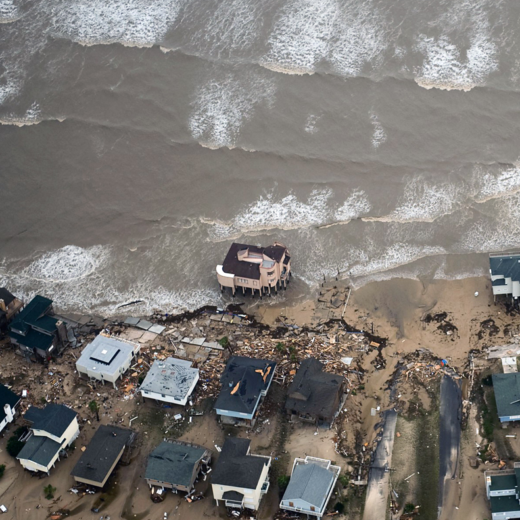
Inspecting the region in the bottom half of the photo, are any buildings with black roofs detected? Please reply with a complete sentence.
Yes, a building with a black roof appears in the bottom half of the photo.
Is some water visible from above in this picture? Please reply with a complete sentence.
Yes, the picture does contain water.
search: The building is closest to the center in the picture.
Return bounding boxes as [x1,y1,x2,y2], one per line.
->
[216,243,292,299]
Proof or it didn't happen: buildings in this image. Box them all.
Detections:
[6,294,78,364]
[280,456,342,520]
[489,252,520,309]
[286,360,349,430]
[485,461,520,520]
[16,403,77,481]
[214,354,275,430]
[145,439,215,497]
[70,422,138,494]
[492,372,520,430]
[140,357,199,411]
[216,243,292,299]
[76,333,141,388]
[212,434,271,517]
[0,385,21,435]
